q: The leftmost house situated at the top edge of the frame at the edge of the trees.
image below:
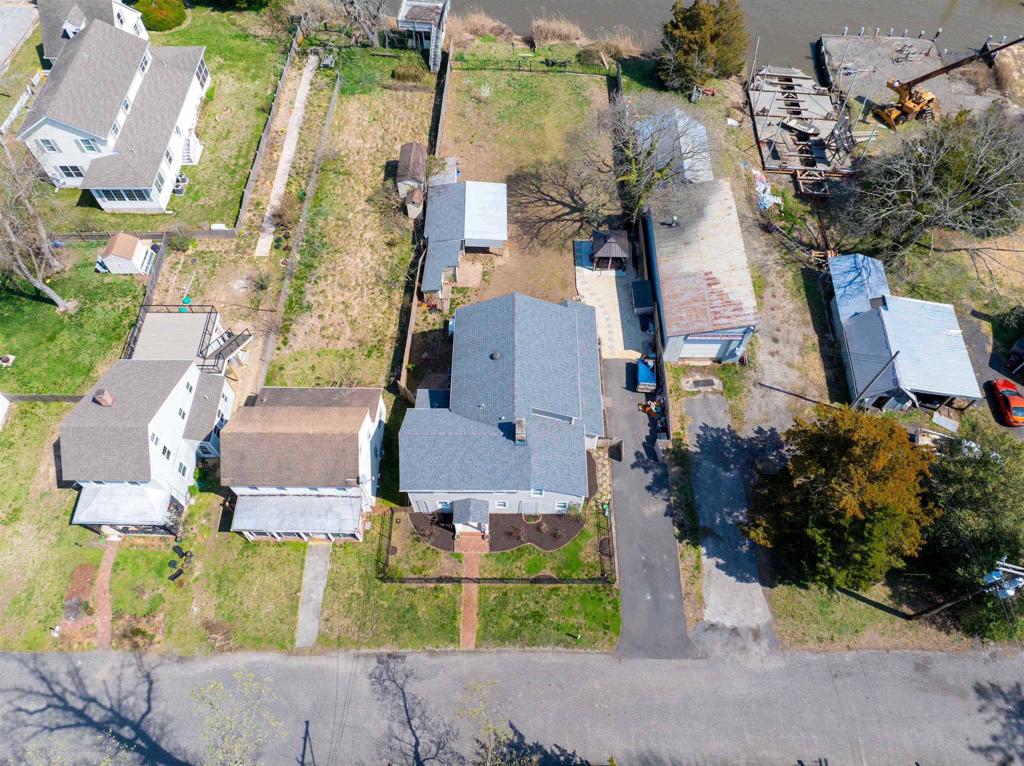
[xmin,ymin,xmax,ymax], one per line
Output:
[12,0,211,211]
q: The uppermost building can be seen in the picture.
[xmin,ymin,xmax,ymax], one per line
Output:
[398,0,448,73]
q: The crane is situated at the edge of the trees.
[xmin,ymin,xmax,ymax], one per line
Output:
[866,36,1024,137]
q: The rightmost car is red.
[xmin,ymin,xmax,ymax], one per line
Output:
[997,375,1024,422]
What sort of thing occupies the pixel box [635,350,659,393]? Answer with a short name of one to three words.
trailer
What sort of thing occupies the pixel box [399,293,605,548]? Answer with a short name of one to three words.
house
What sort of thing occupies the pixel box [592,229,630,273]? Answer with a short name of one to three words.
gazebo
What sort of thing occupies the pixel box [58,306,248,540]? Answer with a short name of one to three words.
house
